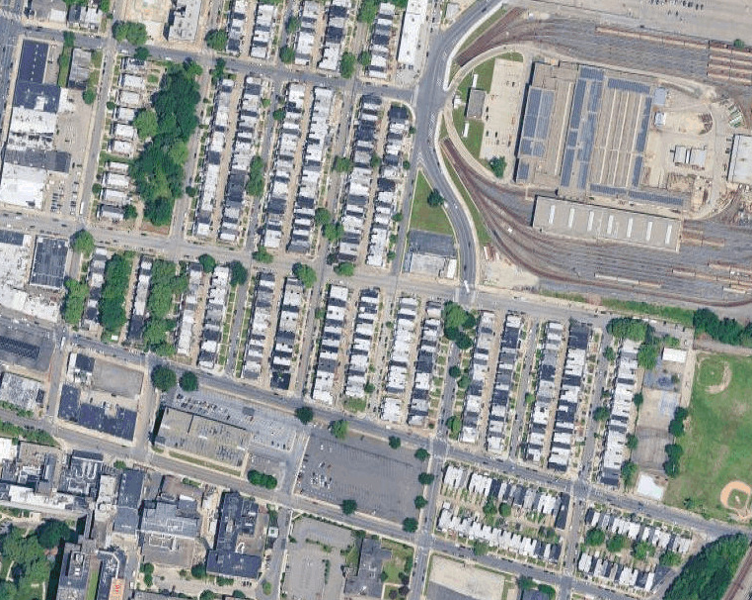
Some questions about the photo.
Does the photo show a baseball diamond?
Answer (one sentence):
Yes, the picture does show a baseball diamond.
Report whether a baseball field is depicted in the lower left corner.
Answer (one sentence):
No, no baseball field is visible in the lower left corner.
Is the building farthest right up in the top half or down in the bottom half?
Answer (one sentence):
You can find the building farthest right in the top half.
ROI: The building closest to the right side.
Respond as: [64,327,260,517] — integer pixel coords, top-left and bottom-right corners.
[727,136,752,188]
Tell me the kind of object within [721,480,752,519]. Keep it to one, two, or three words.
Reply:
baseball field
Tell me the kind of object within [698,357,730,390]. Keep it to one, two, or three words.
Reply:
baseball field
